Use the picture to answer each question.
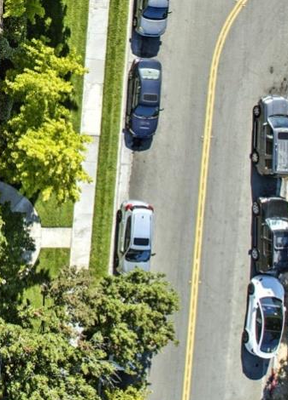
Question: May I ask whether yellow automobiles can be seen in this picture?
No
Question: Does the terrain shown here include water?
No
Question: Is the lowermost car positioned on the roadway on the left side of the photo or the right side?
right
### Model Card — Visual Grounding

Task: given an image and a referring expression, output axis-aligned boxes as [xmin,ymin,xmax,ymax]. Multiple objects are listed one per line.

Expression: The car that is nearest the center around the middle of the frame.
[112,199,152,269]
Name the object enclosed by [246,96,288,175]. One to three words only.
car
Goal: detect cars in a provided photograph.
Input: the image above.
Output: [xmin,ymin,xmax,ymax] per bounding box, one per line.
[246,96,288,175]
[112,199,152,269]
[244,195,288,269]
[236,274,281,356]
[122,57,163,137]
[130,0,170,38]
